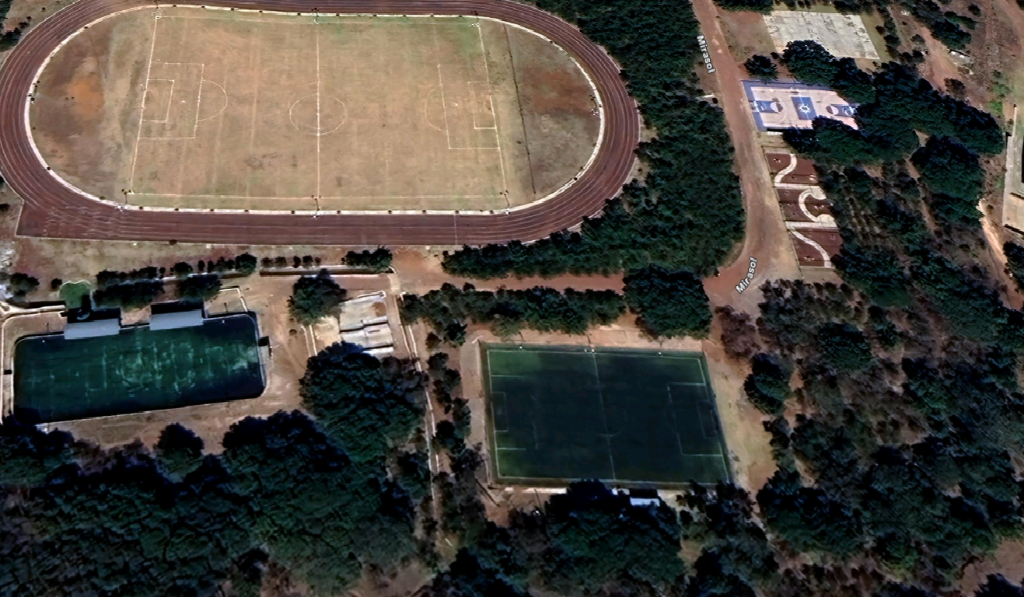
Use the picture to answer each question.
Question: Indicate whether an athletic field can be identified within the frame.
Yes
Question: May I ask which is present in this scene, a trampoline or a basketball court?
basketball court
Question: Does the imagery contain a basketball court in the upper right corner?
Yes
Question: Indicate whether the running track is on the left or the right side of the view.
left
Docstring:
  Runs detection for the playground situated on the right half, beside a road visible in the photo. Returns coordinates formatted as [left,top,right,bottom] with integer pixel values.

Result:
[763,145,849,268]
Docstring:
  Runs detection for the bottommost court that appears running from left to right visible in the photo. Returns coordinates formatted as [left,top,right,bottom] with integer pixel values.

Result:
[742,80,862,135]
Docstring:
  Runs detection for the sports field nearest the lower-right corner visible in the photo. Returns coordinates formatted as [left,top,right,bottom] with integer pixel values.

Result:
[476,343,735,492]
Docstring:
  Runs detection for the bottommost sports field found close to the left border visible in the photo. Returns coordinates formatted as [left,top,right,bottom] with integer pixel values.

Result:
[14,316,265,425]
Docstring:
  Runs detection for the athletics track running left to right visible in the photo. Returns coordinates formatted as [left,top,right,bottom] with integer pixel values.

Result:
[0,0,642,248]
